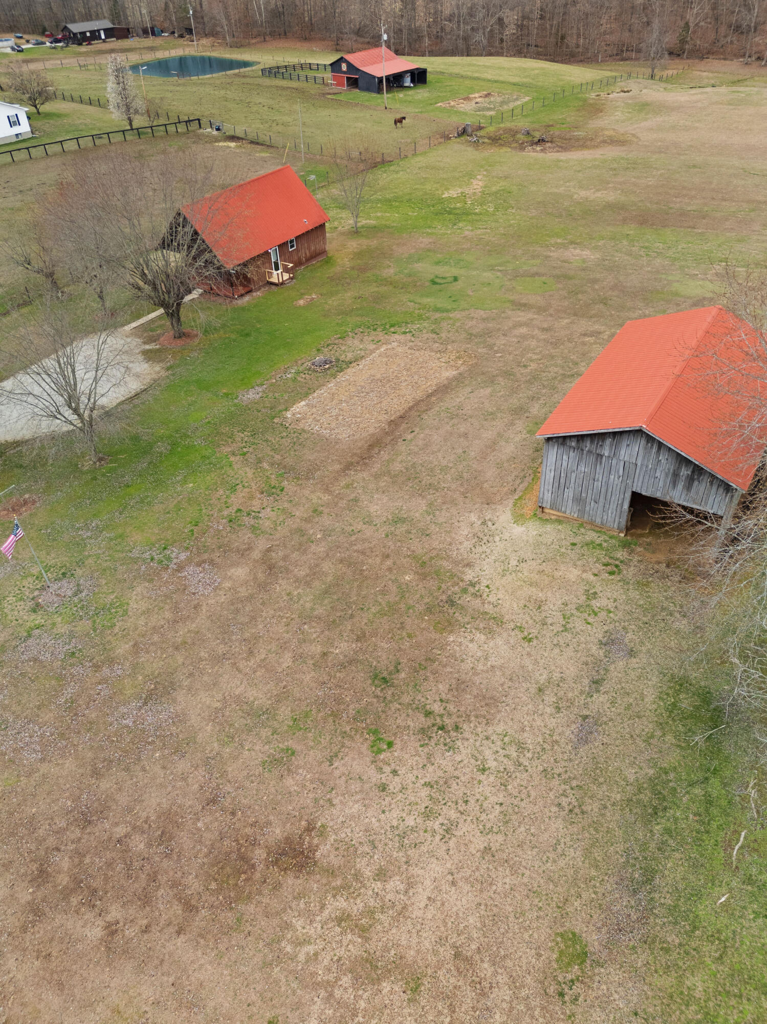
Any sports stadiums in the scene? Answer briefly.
No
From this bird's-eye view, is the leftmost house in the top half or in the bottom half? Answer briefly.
top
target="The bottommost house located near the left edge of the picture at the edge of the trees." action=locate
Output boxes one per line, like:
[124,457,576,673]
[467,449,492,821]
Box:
[0,98,40,144]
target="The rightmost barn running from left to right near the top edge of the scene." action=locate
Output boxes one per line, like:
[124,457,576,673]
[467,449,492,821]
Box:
[330,50,427,93]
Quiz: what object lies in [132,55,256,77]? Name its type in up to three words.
pond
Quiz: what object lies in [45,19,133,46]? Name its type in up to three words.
building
